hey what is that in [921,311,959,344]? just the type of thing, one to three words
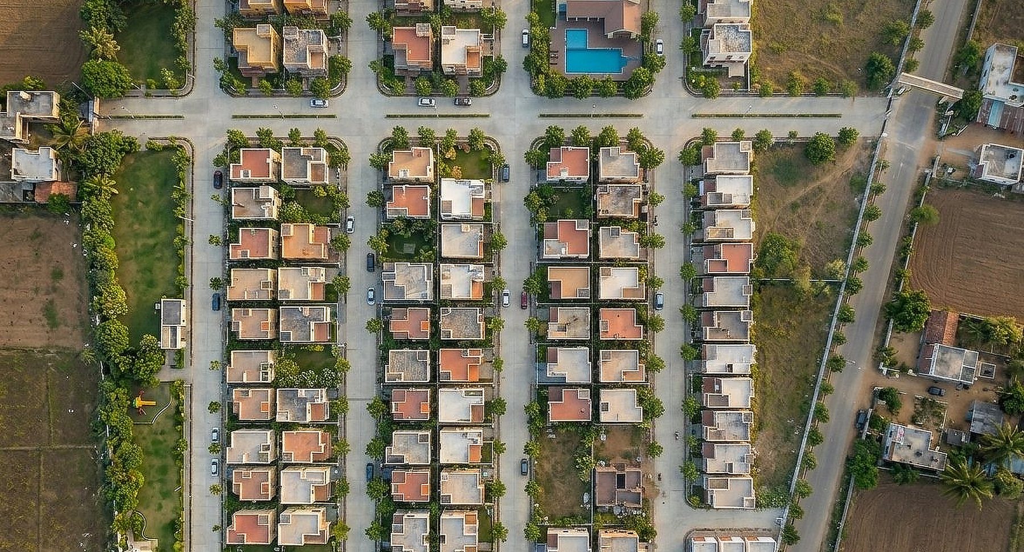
building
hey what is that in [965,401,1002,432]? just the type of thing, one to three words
shed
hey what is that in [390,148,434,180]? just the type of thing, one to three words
house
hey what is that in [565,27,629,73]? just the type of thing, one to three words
swimming pool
